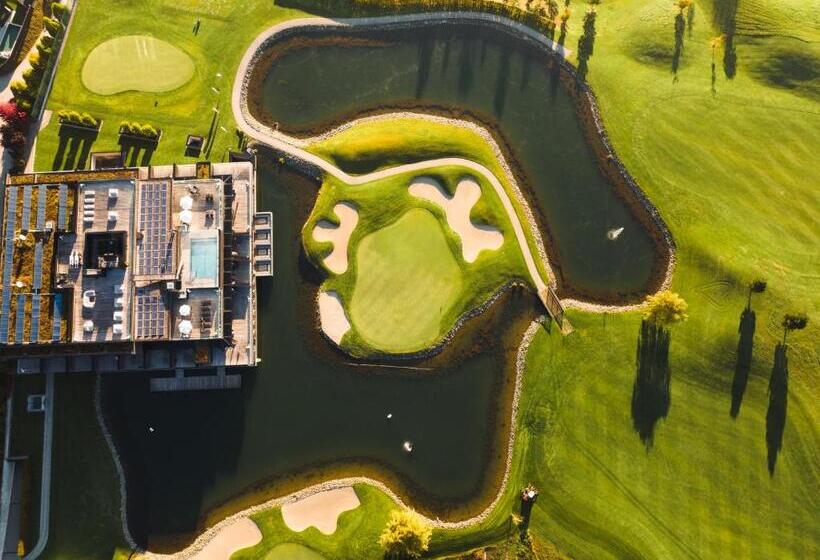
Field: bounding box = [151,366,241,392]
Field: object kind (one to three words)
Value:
pier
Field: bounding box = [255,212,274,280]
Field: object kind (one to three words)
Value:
pier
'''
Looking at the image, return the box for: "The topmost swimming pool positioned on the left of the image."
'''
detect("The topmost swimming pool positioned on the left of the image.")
[181,229,220,291]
